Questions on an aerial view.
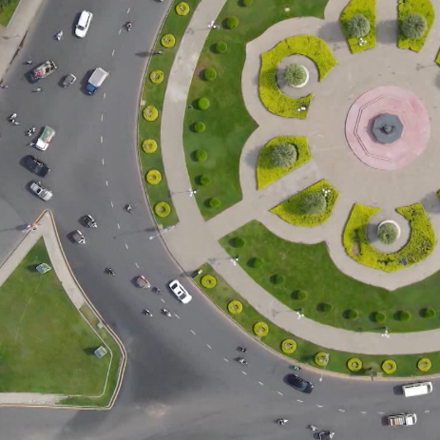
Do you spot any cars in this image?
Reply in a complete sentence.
Yes, looking at the shot, I can spot a car.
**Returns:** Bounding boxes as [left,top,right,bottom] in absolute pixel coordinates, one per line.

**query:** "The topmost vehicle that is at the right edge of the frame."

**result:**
[402,380,432,398]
